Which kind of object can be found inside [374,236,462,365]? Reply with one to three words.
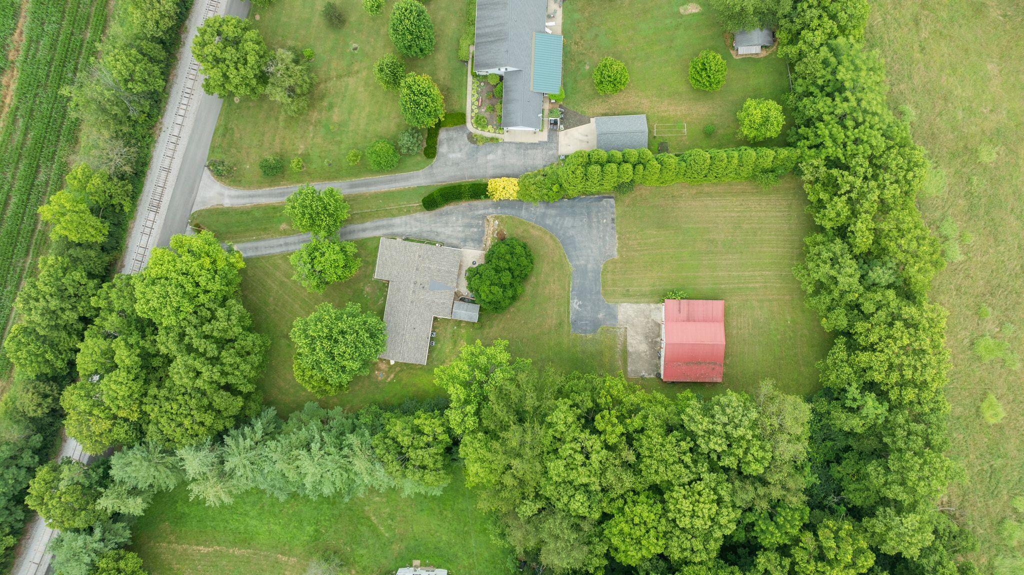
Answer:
house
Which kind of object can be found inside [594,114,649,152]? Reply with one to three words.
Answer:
building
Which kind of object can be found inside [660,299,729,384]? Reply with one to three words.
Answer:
barn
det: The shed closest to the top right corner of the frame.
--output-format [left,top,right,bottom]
[732,13,774,60]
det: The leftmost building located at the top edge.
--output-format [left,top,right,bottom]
[473,0,563,131]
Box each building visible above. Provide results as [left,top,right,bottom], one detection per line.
[660,299,729,384]
[732,13,774,60]
[473,0,563,131]
[374,236,462,365]
[396,568,448,575]
[594,114,649,152]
